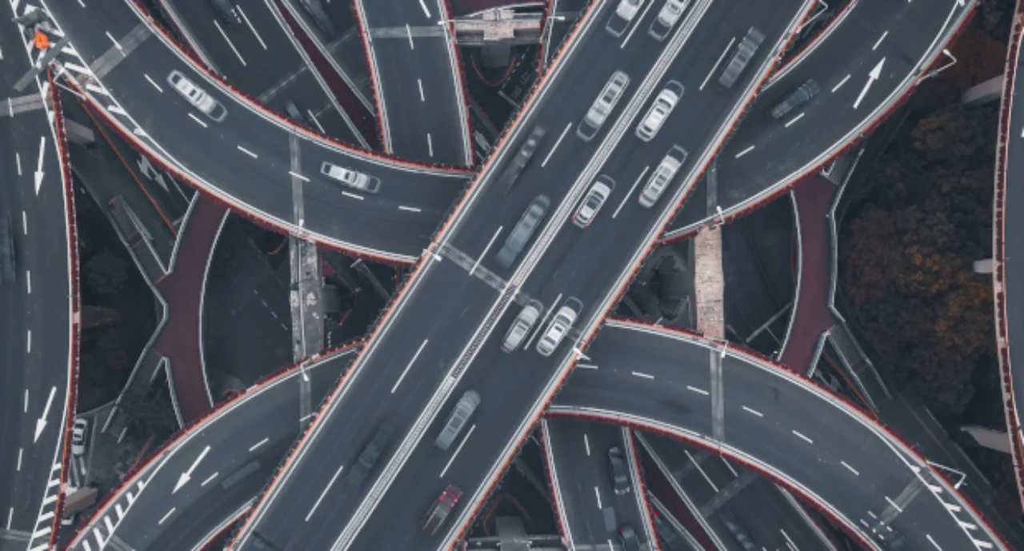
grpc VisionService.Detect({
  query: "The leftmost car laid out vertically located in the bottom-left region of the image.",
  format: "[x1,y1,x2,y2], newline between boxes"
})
[76,418,93,454]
